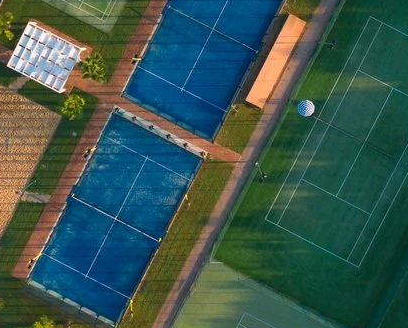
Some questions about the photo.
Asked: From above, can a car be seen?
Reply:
No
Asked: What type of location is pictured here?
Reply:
sports ground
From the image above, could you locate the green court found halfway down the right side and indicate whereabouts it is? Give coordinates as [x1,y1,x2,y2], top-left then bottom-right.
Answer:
[213,0,408,328]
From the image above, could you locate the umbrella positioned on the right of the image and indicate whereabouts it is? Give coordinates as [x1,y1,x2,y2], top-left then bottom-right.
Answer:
[297,99,315,117]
